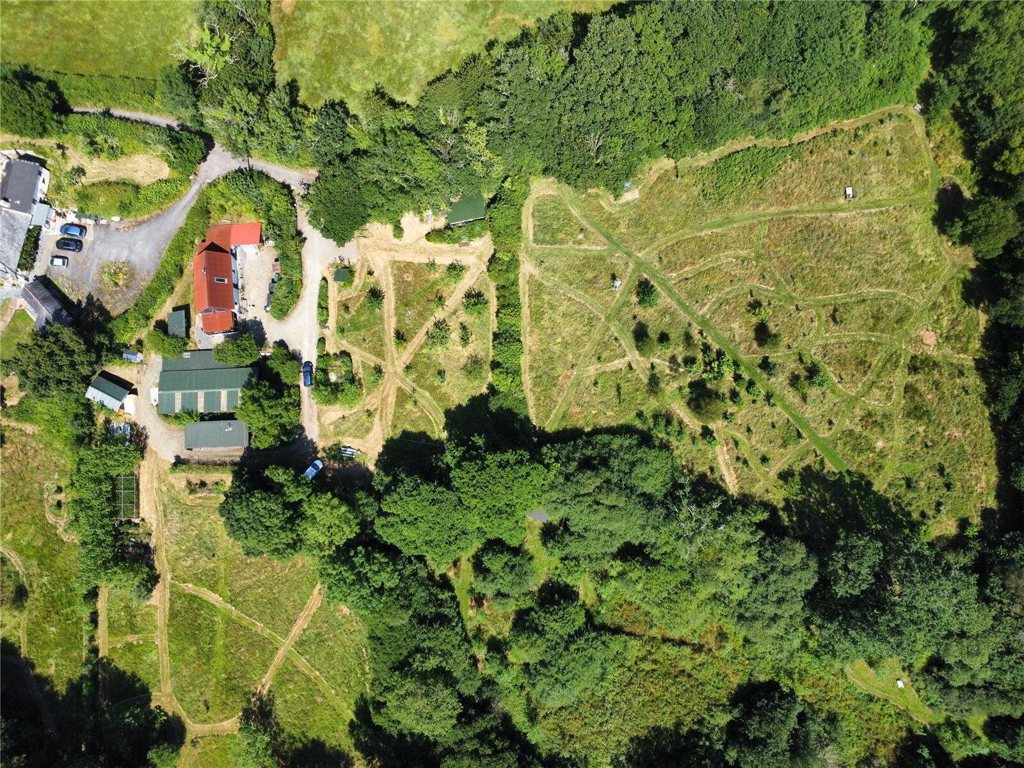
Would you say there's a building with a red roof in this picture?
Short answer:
Yes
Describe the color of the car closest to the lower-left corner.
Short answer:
blue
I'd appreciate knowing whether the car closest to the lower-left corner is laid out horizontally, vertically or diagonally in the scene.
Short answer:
diagonally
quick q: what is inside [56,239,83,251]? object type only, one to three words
vehicle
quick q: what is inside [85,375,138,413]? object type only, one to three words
shed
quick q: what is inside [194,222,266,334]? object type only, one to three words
house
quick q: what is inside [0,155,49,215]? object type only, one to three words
house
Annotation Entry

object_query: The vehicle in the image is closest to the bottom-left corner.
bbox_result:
[301,458,324,482]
